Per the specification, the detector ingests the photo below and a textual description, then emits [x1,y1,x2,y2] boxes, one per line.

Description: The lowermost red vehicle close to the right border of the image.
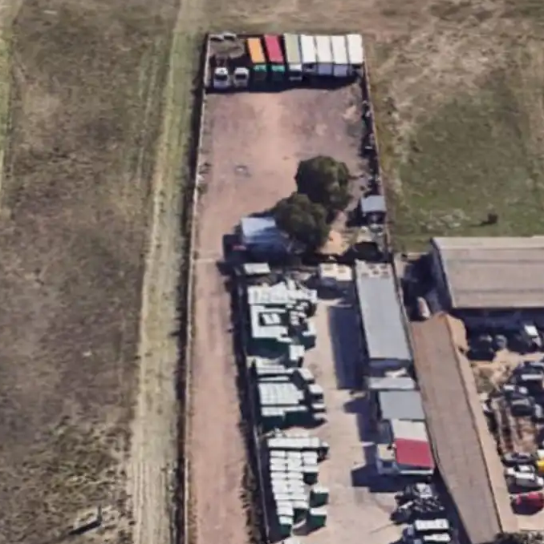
[512,494,544,510]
